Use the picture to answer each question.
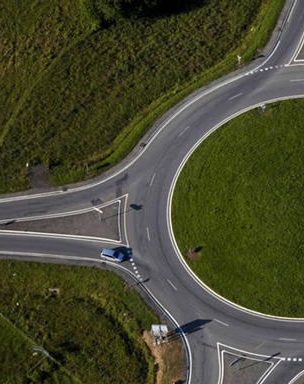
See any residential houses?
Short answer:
No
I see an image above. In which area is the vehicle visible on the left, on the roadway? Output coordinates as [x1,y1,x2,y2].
[99,246,125,263]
